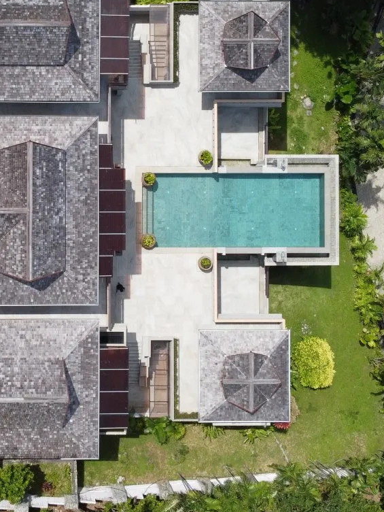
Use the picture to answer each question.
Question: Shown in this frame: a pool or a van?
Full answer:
This aerial view contains a pool.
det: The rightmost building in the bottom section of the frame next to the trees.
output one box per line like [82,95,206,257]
[198,329,289,428]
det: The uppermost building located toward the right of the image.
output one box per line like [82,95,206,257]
[198,0,289,92]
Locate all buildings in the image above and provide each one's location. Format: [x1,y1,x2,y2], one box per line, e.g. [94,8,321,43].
[0,319,129,461]
[198,329,289,428]
[0,116,125,307]
[198,0,289,92]
[0,0,130,103]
